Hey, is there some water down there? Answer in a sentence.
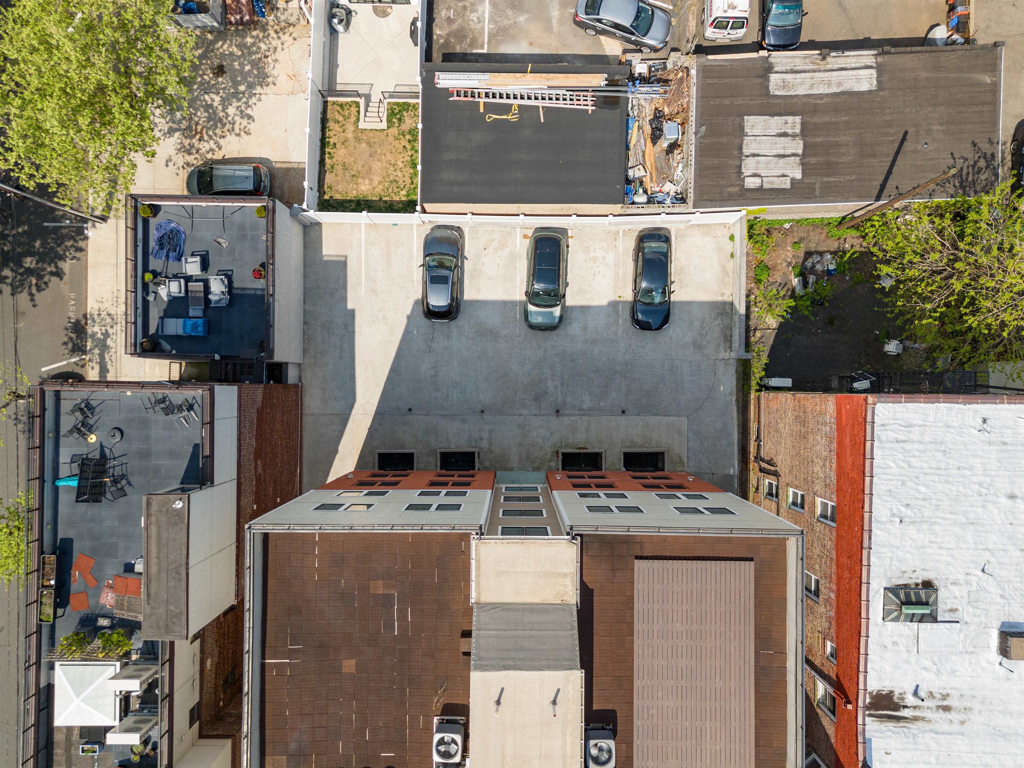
No, no water is visible.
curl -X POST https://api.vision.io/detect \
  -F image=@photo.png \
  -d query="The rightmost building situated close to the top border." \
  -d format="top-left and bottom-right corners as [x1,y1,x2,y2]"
[686,37,1010,220]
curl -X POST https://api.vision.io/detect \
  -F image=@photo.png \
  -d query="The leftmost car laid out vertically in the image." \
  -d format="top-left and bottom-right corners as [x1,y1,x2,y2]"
[417,229,464,323]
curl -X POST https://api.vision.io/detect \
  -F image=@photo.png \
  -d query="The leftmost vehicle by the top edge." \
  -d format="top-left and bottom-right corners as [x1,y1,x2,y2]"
[575,0,673,56]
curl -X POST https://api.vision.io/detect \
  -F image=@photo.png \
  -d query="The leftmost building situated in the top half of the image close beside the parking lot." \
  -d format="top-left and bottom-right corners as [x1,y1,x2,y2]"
[122,192,303,361]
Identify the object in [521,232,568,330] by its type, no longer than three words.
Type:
car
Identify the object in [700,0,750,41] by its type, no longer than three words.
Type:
van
